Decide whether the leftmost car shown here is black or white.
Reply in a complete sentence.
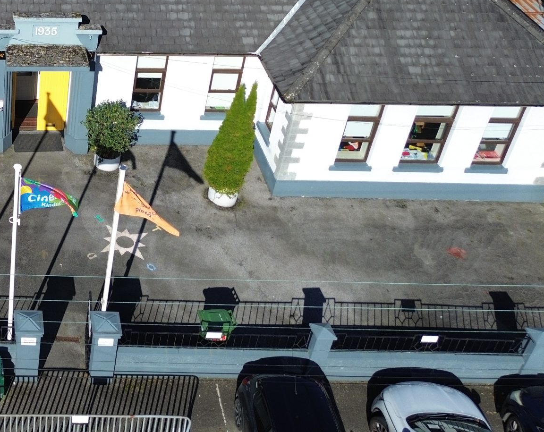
The color of the leftmost car is black.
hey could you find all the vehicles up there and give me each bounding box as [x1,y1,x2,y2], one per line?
[236,362,354,432]
[498,386,544,432]
[367,384,502,432]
